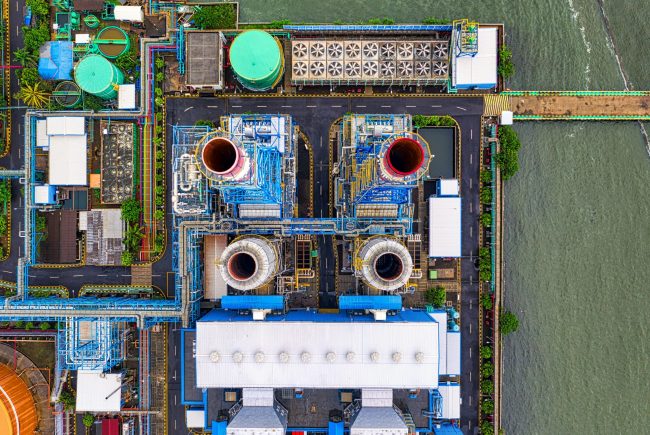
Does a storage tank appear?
Yes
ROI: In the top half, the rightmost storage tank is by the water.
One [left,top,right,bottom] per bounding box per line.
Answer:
[229,27,288,92]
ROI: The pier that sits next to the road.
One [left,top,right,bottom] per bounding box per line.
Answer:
[483,91,650,121]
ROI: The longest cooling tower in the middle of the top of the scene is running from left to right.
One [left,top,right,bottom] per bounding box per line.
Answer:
[291,38,457,97]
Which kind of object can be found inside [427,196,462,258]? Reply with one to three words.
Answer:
building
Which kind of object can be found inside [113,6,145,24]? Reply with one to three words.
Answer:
shed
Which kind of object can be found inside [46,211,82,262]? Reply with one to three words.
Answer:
shed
